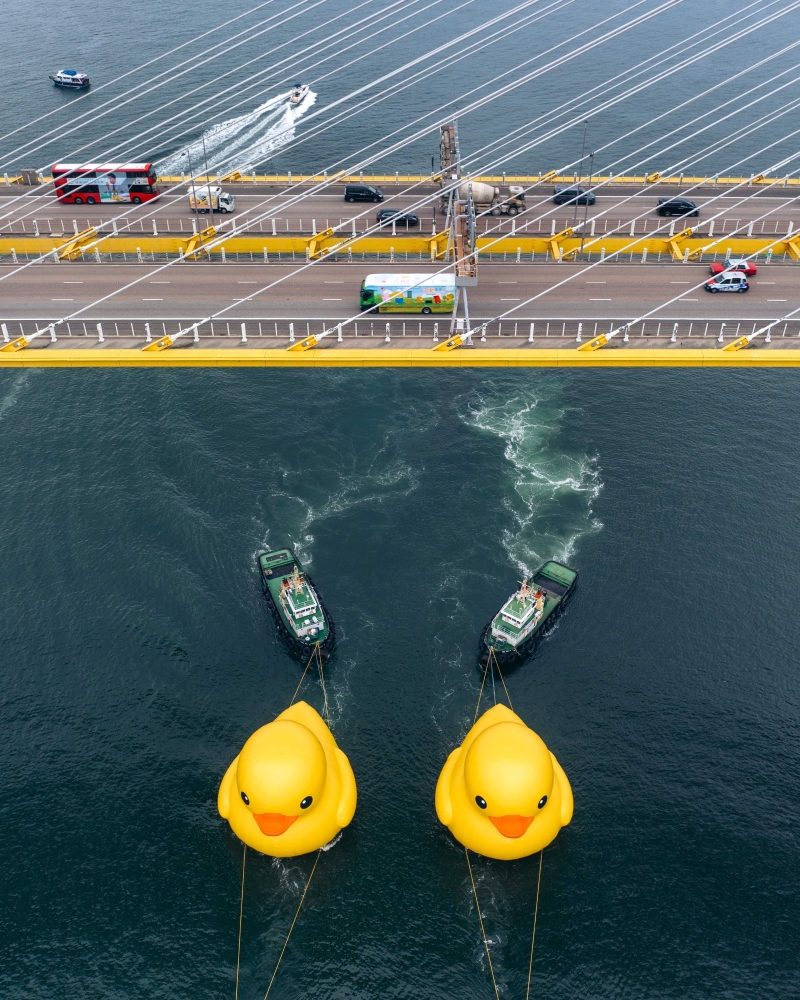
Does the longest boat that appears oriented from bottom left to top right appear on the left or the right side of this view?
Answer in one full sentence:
The longest boat that appears oriented from bottom left to top right is on the right side of the image.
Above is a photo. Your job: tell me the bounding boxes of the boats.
[480,558,578,668]
[255,547,337,663]
[286,84,314,102]
[54,69,90,86]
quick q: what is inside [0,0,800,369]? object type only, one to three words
bridge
